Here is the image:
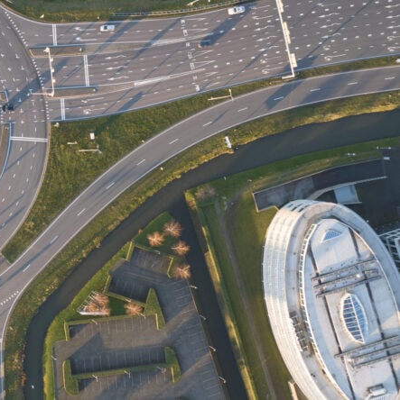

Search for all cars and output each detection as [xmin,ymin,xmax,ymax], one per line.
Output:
[199,39,214,46]
[230,5,247,13]
[101,24,116,31]
[1,104,16,111]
